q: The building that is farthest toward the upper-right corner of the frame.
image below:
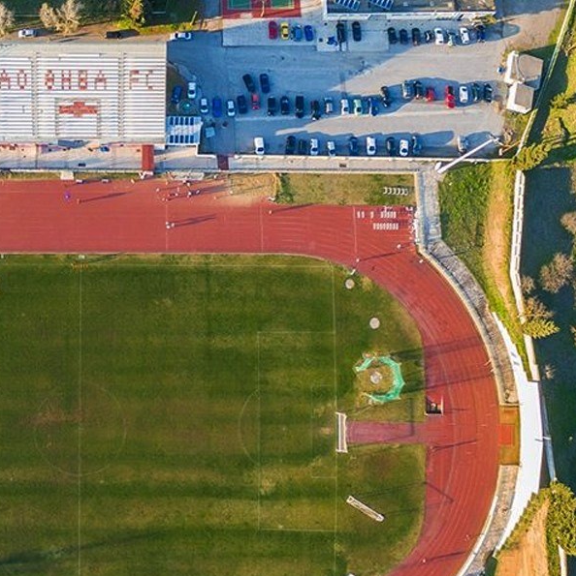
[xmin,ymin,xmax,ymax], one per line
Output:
[502,51,543,91]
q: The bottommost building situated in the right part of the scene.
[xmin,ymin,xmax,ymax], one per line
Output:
[504,85,534,115]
